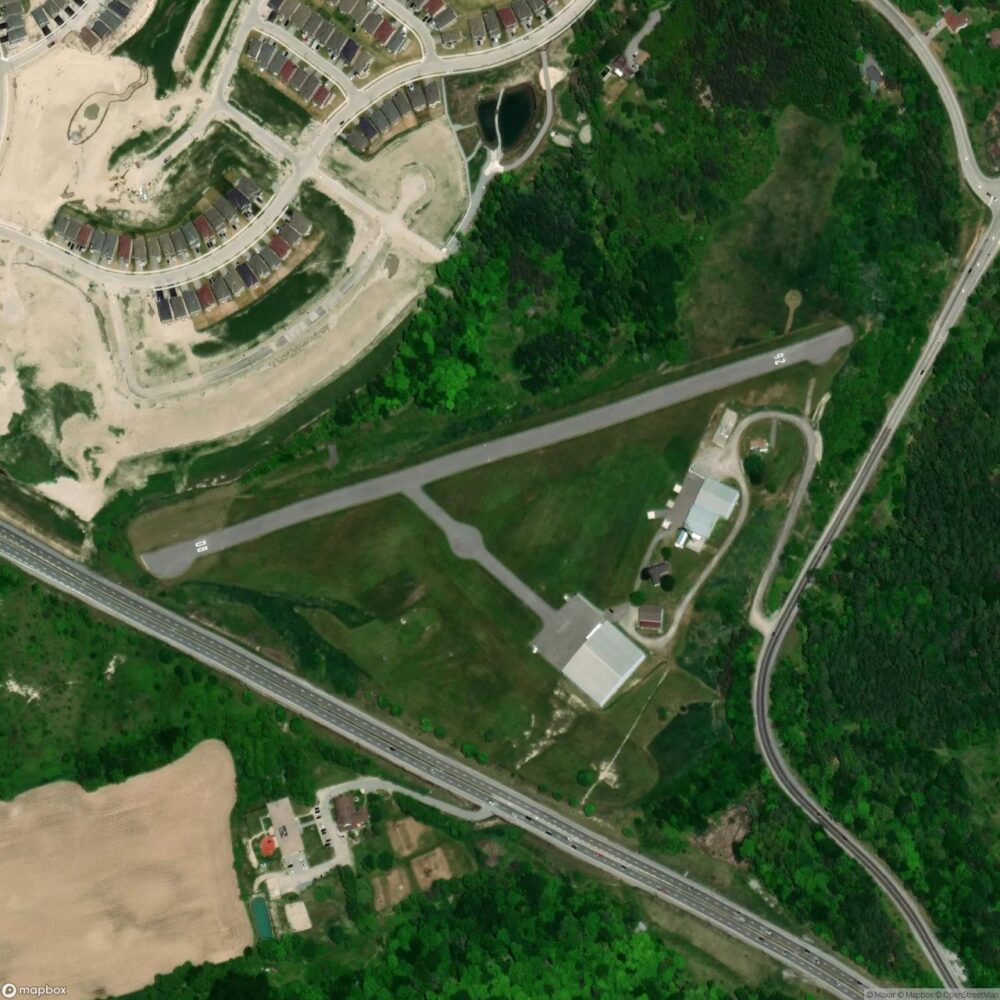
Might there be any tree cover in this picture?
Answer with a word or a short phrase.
Yes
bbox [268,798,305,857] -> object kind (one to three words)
building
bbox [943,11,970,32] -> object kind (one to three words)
house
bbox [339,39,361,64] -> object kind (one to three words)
house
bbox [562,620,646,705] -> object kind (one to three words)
hangar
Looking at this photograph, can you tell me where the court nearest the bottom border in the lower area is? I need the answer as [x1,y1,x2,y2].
[285,902,312,932]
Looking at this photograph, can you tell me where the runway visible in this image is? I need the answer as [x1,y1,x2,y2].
[141,325,854,581]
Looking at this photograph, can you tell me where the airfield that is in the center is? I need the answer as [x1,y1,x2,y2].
[141,325,854,671]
